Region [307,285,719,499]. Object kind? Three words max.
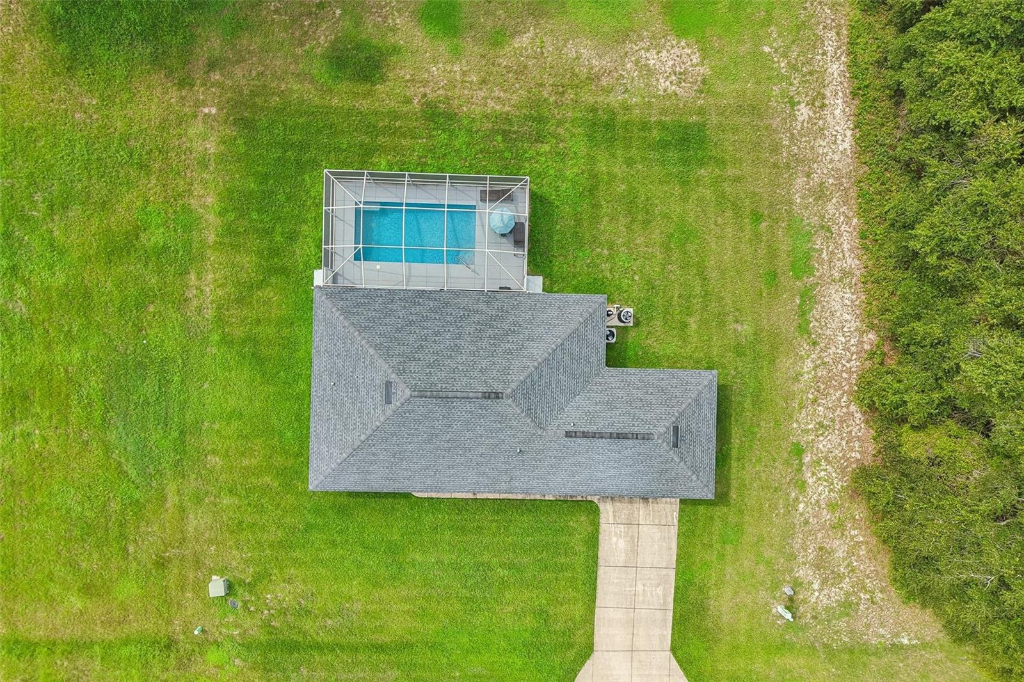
house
